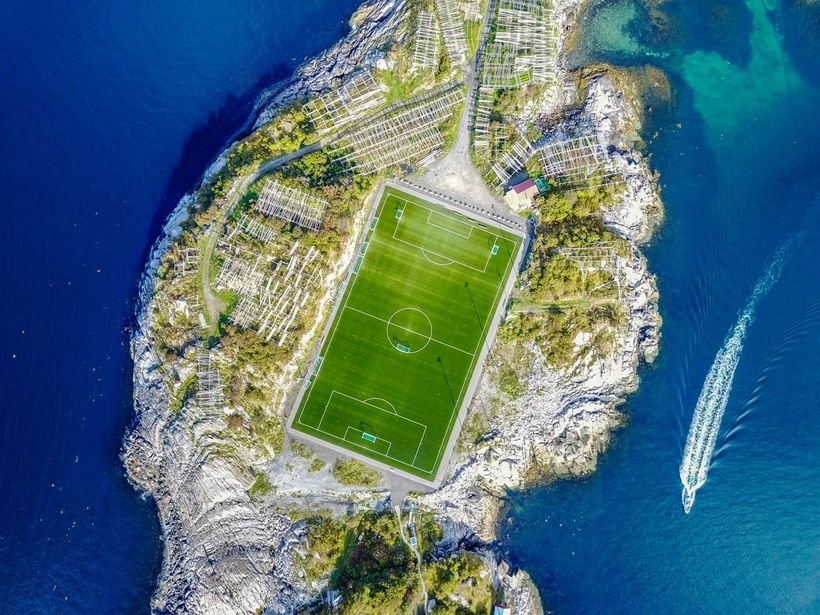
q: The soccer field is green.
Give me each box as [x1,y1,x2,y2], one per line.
[286,180,529,488]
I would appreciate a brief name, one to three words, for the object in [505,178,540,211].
house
